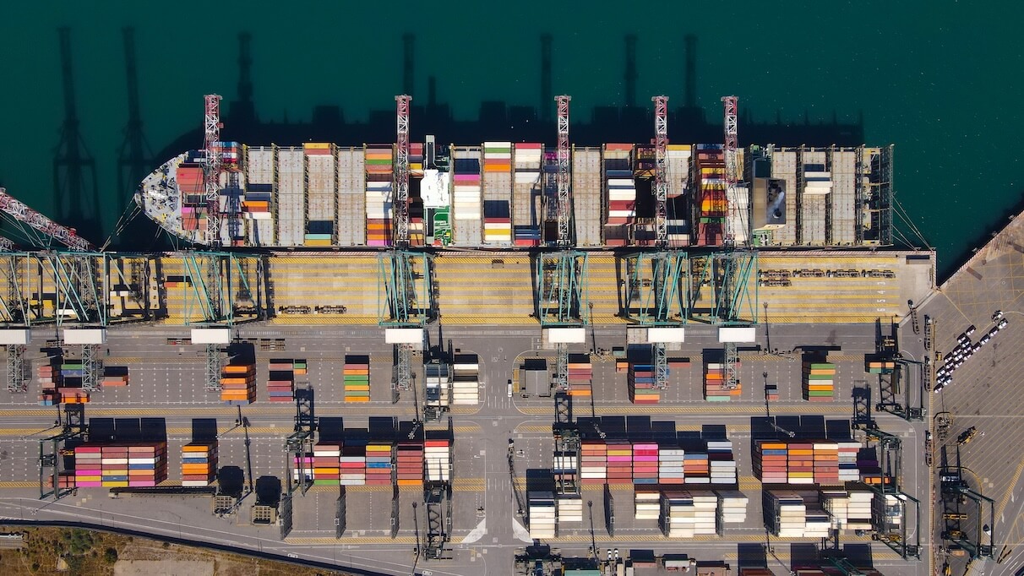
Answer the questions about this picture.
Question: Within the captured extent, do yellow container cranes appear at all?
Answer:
No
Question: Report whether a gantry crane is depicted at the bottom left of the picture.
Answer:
Yes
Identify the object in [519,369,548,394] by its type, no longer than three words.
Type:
shed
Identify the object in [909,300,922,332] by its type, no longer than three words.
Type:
vehicle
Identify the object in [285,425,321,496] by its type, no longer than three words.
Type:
container crane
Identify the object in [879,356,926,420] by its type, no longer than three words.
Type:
container crane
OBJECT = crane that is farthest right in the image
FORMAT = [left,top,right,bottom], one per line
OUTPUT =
[946,492,999,564]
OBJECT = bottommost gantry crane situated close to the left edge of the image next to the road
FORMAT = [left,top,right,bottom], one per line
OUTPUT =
[37,429,89,497]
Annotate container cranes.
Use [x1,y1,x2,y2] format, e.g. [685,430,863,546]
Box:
[0,233,107,395]
[529,93,587,393]
[677,92,757,393]
[879,356,926,420]
[946,492,999,564]
[613,93,685,393]
[0,192,171,395]
[378,94,445,394]
[856,423,901,494]
[175,94,278,395]
[37,429,89,497]
[876,486,923,558]
[423,487,452,560]
[285,425,321,496]
[421,354,450,421]
[556,424,584,495]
